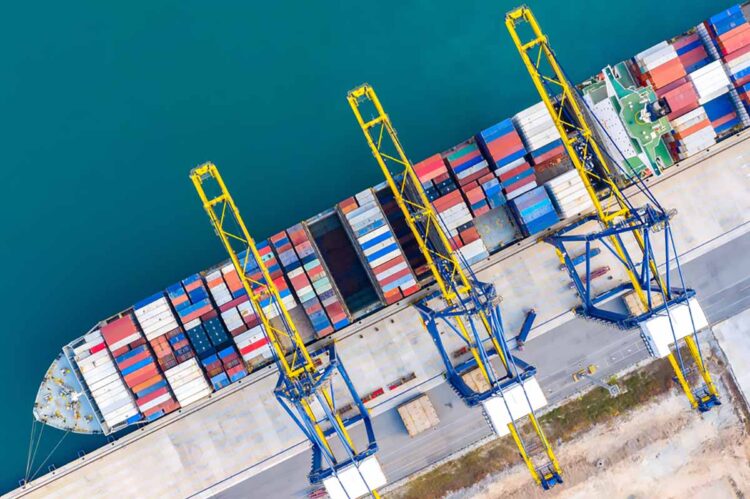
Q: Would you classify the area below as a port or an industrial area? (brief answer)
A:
port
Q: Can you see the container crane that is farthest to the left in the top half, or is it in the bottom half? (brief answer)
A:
bottom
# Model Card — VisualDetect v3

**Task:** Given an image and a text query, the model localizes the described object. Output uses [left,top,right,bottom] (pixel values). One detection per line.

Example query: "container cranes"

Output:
[189,162,388,499]
[347,84,562,489]
[505,5,721,412]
